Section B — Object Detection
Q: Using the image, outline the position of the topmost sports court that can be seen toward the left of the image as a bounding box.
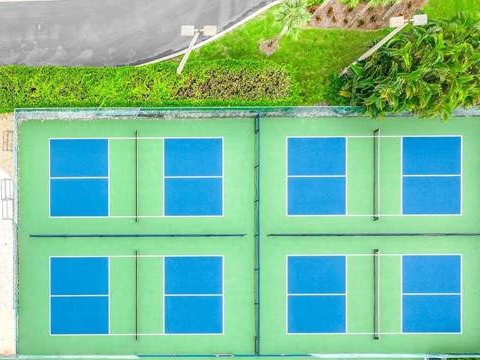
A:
[18,117,255,236]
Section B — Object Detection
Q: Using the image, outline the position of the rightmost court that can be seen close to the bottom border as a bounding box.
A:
[255,236,480,355]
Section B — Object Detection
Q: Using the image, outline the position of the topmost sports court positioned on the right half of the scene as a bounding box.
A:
[255,117,480,236]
